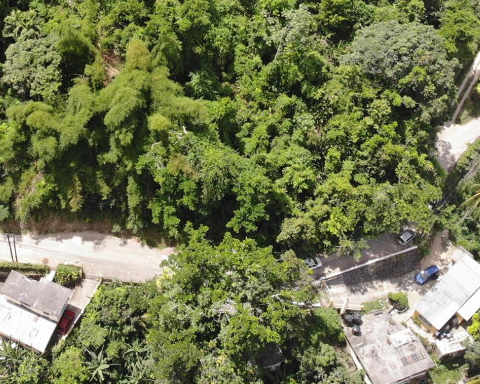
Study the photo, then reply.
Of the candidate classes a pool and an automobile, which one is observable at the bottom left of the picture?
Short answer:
automobile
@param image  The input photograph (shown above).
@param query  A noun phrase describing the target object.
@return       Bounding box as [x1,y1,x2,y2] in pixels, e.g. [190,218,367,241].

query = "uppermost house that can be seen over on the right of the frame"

[412,253,480,336]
